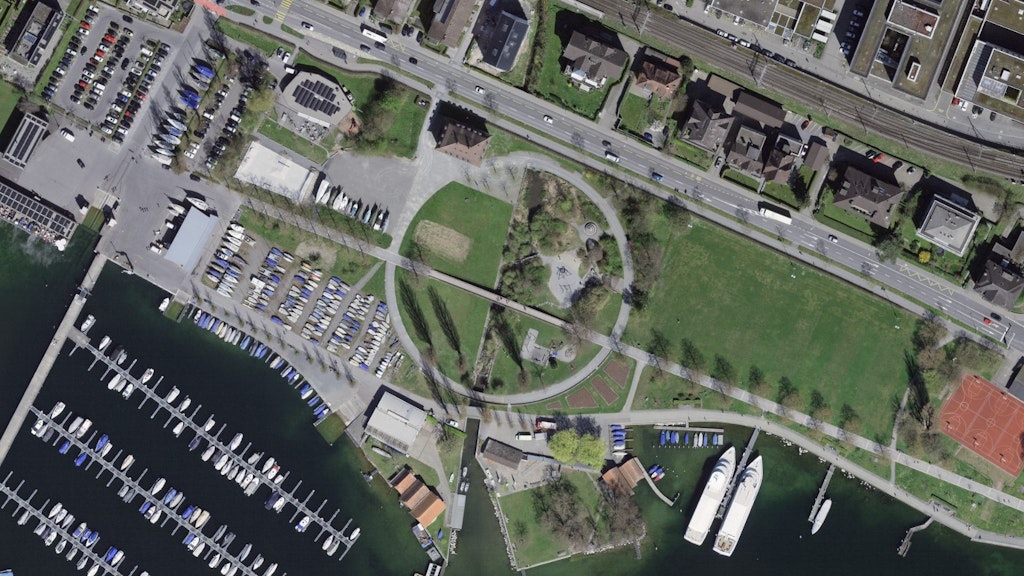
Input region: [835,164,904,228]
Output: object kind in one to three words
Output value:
house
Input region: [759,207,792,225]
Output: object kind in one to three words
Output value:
vehicle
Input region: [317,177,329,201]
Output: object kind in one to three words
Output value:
boat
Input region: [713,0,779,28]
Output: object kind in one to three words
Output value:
building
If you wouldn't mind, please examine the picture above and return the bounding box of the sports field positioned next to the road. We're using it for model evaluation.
[625,212,922,439]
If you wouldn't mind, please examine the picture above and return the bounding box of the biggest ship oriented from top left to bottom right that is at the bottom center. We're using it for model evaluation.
[409,519,436,552]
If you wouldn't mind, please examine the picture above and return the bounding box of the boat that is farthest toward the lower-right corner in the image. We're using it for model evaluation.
[813,499,832,533]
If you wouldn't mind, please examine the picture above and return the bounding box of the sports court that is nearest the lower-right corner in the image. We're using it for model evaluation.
[940,374,1024,476]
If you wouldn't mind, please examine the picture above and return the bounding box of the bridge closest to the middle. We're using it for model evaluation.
[427,269,557,321]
